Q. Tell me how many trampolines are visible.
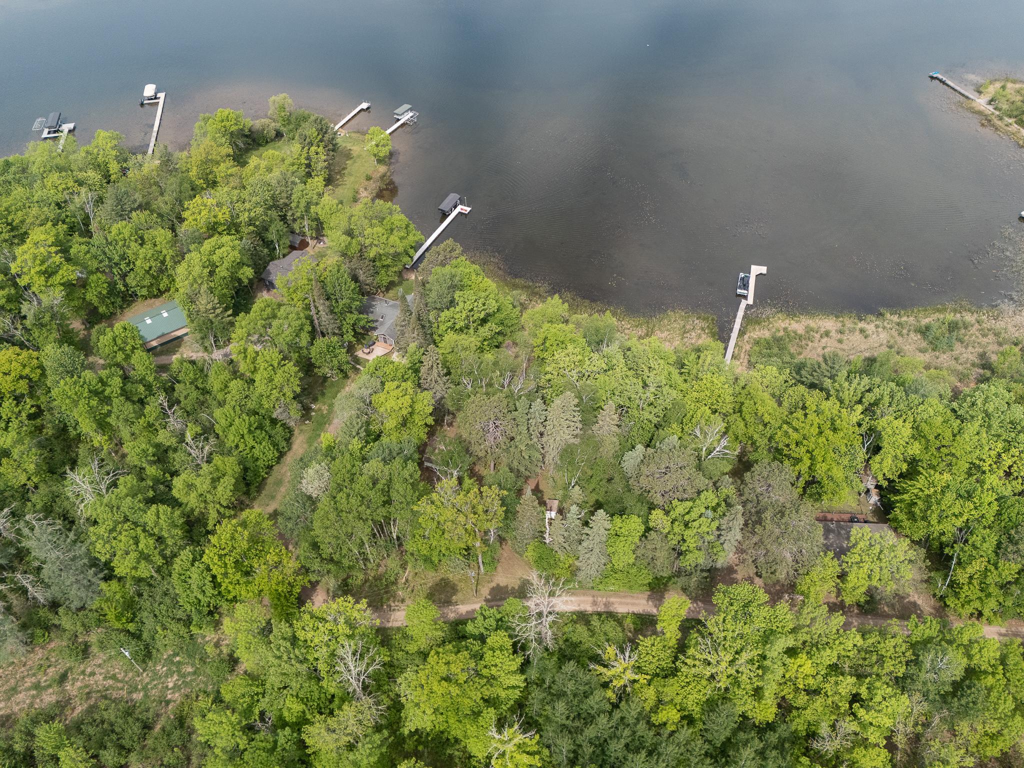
0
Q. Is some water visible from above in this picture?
Yes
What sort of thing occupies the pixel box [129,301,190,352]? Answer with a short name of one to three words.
barn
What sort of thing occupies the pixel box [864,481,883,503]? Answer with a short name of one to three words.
shed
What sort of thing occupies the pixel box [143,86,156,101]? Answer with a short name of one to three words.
boat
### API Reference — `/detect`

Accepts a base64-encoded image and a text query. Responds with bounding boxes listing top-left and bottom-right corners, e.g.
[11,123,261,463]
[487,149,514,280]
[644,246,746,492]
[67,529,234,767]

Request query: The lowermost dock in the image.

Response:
[727,264,767,361]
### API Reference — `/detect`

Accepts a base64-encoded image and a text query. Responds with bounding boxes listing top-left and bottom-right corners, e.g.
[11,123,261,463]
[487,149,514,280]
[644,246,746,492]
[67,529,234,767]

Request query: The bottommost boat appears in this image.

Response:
[735,273,750,296]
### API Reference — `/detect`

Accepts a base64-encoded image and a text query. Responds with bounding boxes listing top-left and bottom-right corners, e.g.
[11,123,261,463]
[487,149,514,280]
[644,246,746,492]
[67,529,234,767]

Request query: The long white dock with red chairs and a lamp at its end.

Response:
[406,204,472,268]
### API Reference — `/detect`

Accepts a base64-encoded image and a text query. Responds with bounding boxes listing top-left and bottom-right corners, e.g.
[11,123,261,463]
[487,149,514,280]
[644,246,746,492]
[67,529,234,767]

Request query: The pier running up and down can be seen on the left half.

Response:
[144,92,166,143]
